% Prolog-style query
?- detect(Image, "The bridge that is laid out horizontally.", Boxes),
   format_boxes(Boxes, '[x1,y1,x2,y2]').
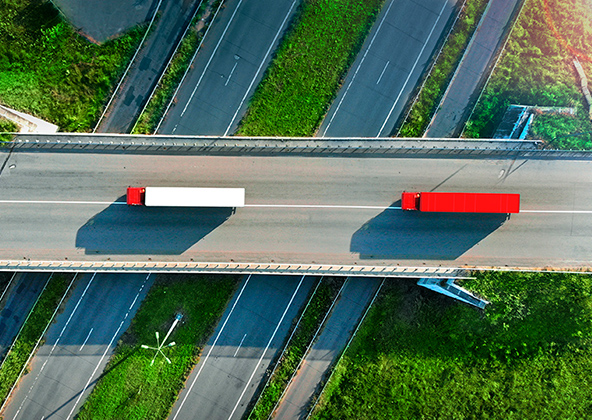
[0,101,576,311]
